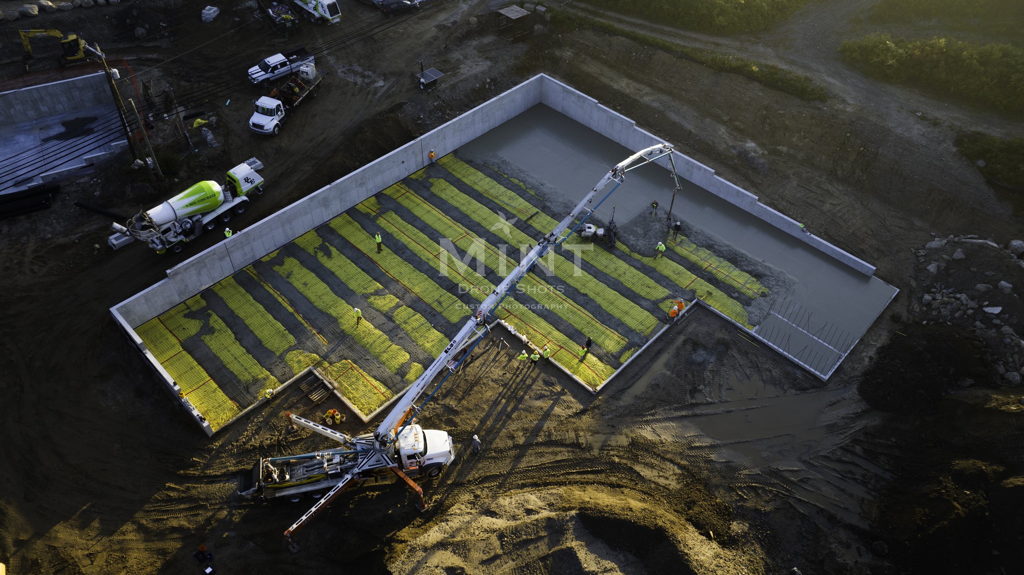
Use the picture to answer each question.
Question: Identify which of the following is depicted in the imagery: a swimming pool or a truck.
truck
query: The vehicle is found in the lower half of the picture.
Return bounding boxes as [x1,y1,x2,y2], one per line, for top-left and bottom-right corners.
[238,140,679,558]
